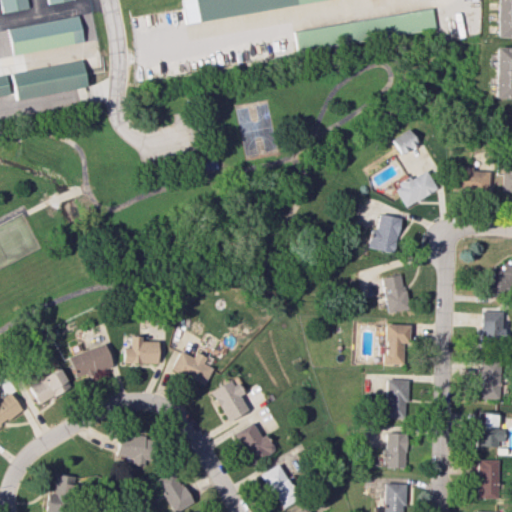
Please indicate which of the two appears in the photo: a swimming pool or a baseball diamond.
swimming pool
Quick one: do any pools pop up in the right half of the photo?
Yes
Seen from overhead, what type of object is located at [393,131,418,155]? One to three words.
building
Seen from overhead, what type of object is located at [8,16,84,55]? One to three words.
shed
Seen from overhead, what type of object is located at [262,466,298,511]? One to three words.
house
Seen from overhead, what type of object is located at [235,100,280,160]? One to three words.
basketball court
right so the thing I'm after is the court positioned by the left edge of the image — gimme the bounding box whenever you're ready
[0,212,39,266]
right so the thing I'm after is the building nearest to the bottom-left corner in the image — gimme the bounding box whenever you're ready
[46,476,76,512]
